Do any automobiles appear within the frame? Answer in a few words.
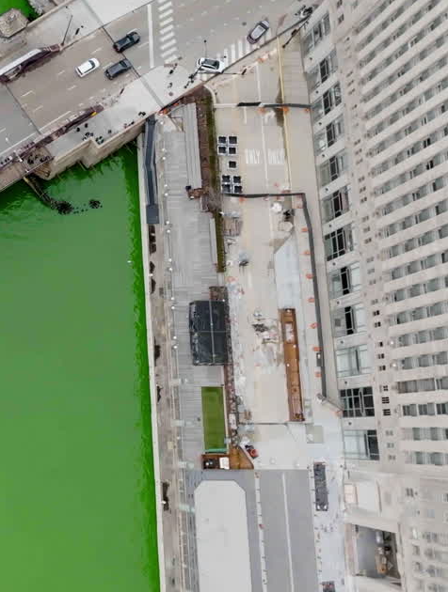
Yes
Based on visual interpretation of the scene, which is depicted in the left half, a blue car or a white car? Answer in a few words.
white car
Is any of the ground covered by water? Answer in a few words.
Yes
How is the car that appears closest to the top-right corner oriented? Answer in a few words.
diagonally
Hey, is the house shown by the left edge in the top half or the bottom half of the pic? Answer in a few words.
top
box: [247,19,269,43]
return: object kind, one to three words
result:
car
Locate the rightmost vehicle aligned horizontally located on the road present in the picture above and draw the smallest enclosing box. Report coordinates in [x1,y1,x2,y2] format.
[196,59,223,72]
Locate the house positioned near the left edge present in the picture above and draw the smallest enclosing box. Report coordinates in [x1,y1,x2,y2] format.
[0,8,29,48]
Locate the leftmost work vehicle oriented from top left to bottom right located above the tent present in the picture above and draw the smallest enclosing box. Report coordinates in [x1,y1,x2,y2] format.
[243,439,259,459]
